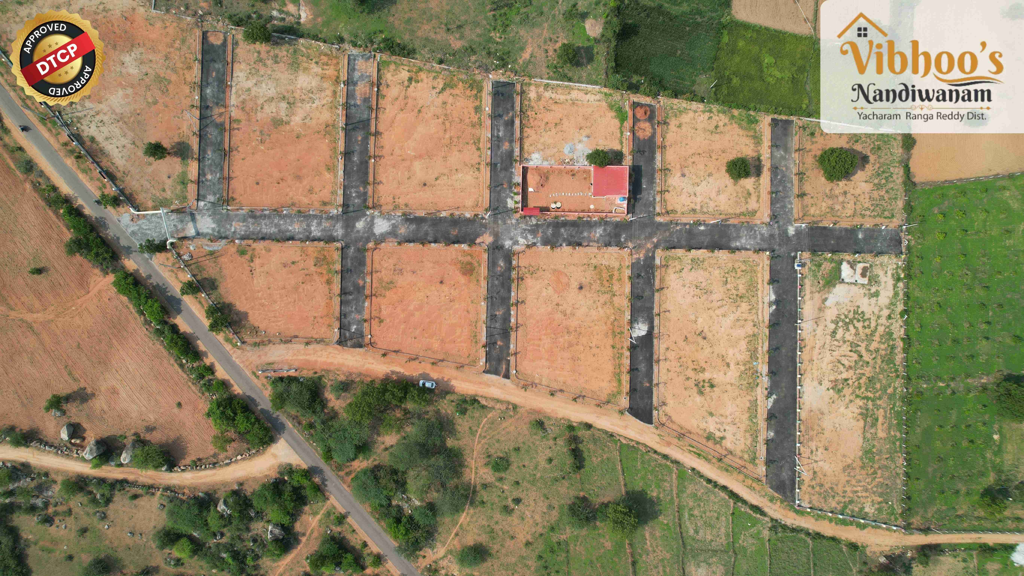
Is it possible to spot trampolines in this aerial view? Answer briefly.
No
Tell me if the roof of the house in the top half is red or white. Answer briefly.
red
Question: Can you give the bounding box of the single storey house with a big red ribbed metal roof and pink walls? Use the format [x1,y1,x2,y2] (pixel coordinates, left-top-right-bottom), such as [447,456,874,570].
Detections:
[592,165,629,198]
